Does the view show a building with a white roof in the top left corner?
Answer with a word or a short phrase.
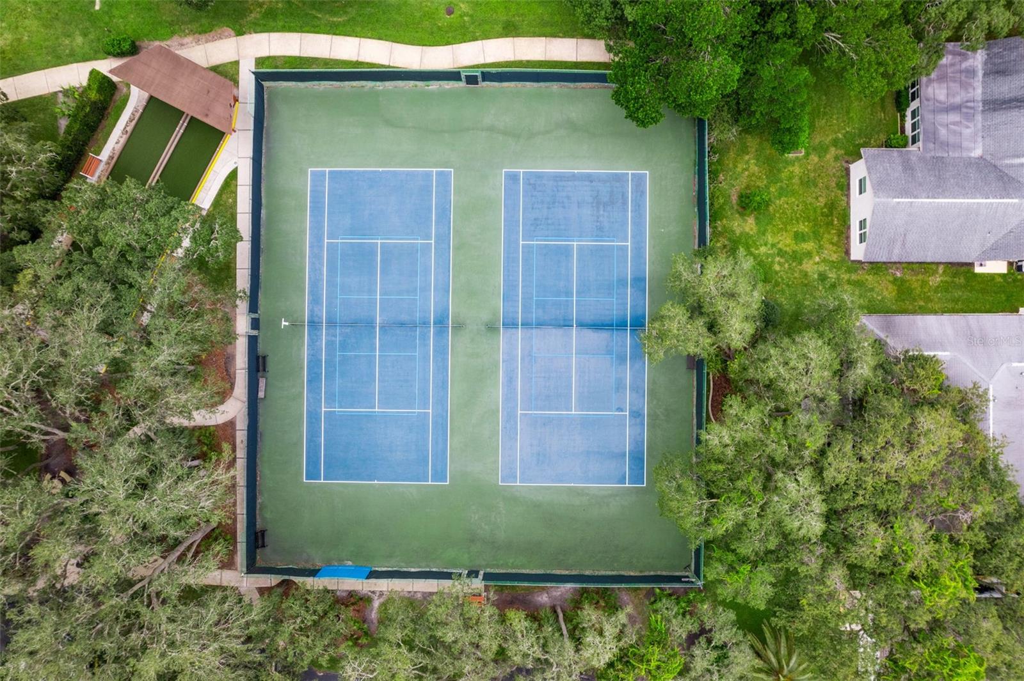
No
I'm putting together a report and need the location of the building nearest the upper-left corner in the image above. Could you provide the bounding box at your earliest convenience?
[109,44,236,134]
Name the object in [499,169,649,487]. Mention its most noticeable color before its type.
blue tennis court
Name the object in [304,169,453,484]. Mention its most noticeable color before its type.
blue tennis court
